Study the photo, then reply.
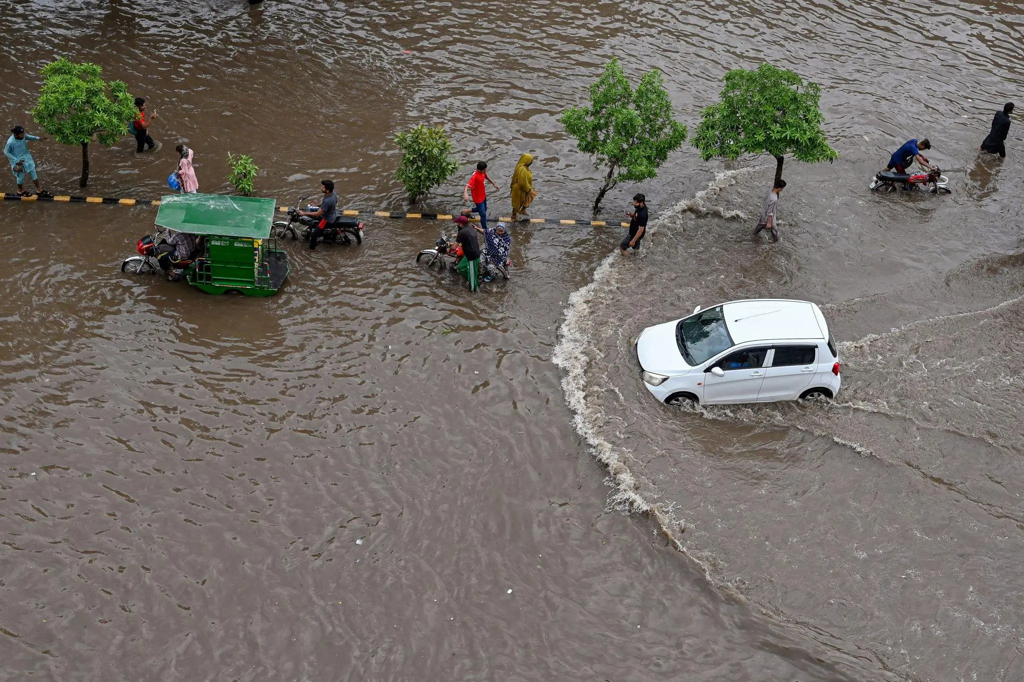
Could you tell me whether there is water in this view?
Yes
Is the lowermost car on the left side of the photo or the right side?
right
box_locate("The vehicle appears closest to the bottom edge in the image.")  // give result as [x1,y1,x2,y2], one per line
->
[637,297,841,402]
